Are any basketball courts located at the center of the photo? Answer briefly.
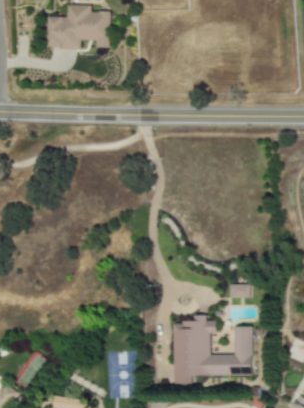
No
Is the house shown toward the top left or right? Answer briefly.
left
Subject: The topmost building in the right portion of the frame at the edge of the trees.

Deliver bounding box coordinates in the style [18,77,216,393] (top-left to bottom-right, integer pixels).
[230,284,254,298]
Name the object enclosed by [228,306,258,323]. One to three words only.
swimming pool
